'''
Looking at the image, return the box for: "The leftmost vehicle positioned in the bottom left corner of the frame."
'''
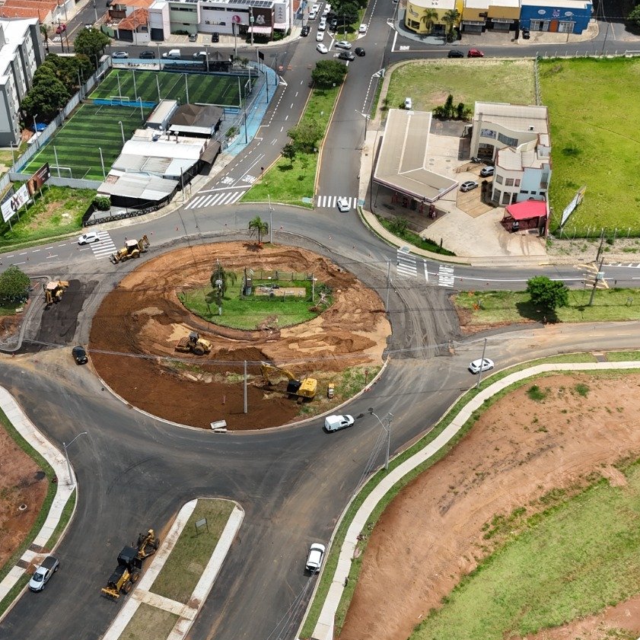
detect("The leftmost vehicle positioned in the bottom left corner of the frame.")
[23,553,64,592]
